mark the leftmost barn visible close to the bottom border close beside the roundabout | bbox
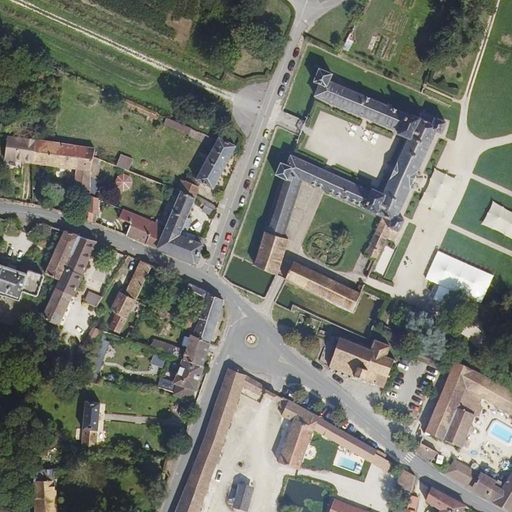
[176,368,264,512]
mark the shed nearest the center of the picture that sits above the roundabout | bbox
[254,232,288,275]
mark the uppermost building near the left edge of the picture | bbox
[4,136,102,194]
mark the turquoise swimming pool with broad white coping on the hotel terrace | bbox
[488,422,512,446]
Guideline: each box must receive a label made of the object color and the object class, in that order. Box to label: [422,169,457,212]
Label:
white tent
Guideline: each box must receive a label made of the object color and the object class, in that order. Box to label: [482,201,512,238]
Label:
white tent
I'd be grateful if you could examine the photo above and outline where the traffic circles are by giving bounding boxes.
[229,317,274,362]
